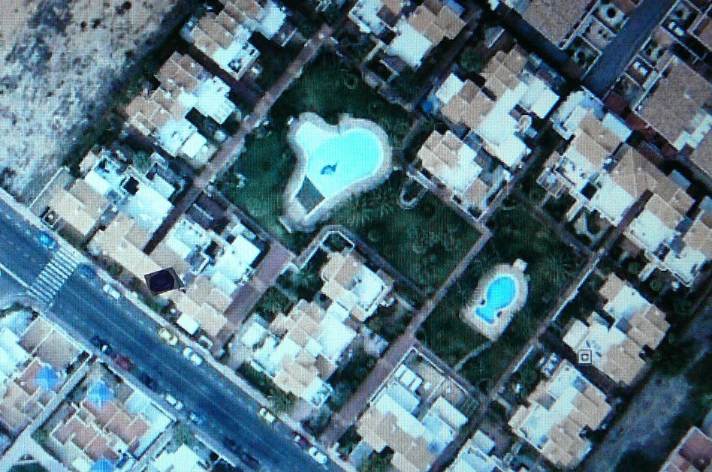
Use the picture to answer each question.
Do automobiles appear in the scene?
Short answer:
Yes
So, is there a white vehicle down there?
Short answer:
Yes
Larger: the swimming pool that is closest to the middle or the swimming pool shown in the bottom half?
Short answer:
the swimming pool that is closest to the middle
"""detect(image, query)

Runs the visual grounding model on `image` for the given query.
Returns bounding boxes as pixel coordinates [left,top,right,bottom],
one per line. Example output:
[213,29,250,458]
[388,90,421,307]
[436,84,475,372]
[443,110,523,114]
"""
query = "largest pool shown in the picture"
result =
[280,112,393,231]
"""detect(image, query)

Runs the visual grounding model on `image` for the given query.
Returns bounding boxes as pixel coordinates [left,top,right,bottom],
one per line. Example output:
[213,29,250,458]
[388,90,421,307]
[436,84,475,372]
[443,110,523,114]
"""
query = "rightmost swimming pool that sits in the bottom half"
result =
[461,257,529,342]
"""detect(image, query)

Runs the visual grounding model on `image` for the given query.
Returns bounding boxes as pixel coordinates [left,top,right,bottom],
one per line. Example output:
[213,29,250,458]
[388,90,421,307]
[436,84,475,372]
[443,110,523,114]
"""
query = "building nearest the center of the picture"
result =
[318,248,396,325]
